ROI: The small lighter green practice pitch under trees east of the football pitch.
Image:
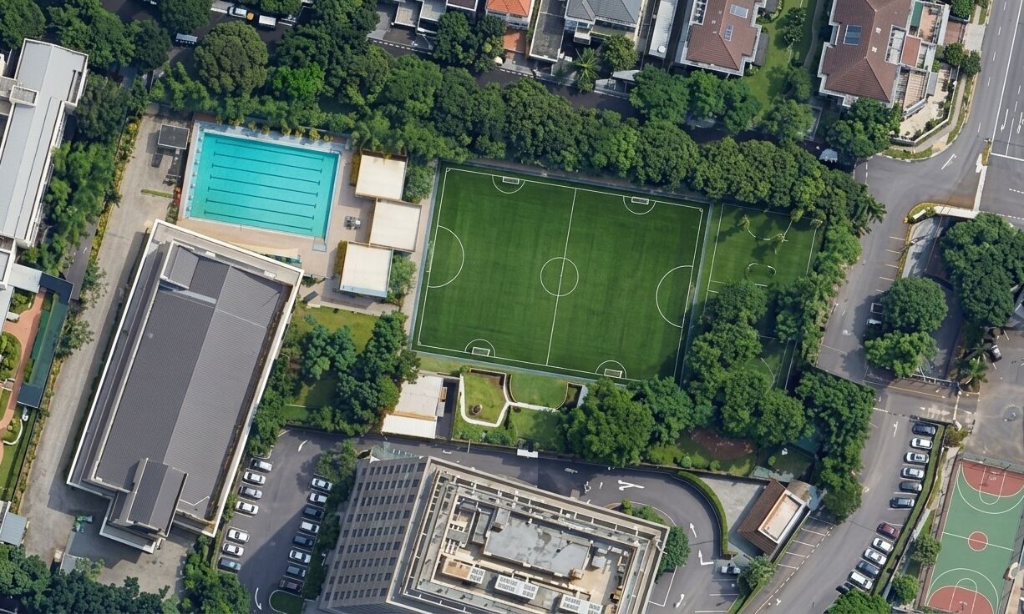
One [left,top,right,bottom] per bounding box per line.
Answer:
[695,200,820,397]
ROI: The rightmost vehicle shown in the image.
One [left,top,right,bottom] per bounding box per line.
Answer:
[990,341,1007,364]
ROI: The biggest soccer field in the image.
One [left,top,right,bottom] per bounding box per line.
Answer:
[412,162,711,382]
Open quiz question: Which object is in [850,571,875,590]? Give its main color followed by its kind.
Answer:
white car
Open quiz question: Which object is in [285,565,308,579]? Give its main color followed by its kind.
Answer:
blue car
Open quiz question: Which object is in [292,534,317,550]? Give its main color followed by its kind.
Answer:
black car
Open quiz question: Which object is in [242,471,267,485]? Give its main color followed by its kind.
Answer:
white car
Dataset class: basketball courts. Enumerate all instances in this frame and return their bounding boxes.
[917,454,1024,614]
